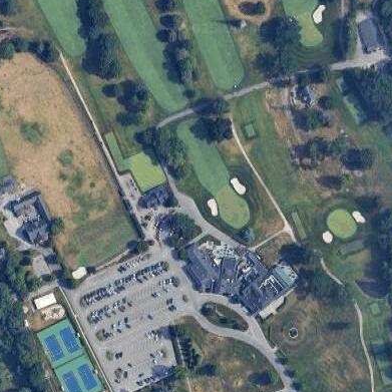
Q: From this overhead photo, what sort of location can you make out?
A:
golf course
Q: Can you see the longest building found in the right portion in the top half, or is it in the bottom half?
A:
bottom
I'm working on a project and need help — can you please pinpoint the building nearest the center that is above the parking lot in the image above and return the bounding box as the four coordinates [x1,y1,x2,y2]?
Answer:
[138,187,171,208]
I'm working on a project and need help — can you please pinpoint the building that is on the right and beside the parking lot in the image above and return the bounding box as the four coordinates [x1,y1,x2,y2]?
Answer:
[182,247,302,317]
